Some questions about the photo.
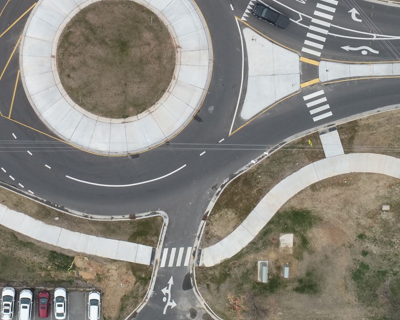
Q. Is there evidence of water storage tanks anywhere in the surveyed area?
No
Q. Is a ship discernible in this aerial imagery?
No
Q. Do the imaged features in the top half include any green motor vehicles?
No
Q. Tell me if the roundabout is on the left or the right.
left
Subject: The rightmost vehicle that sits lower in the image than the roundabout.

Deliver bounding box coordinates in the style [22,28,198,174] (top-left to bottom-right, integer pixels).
[87,290,100,320]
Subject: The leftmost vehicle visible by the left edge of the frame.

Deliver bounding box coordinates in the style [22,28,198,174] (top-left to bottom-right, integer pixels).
[0,287,16,320]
